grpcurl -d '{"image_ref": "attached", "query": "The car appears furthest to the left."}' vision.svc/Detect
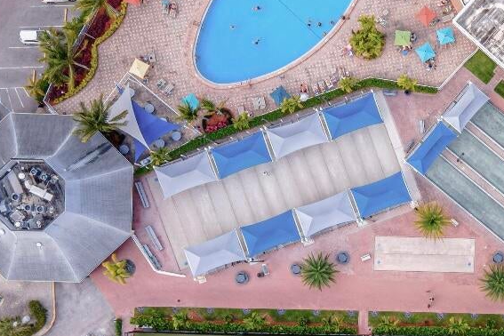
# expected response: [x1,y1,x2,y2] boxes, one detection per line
[19,27,56,45]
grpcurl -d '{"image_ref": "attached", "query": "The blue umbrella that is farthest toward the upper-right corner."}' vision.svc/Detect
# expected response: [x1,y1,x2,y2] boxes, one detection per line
[436,27,454,45]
